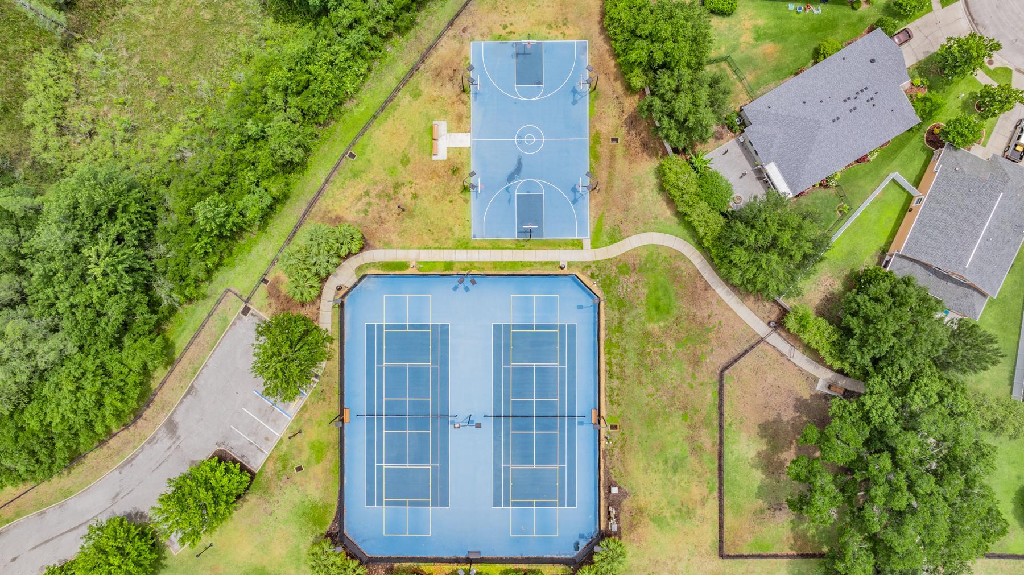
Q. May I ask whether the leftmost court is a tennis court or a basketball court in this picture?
tennis court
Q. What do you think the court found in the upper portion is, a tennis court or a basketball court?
basketball court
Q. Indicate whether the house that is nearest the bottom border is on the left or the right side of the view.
right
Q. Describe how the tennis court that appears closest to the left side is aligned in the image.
from top to bottom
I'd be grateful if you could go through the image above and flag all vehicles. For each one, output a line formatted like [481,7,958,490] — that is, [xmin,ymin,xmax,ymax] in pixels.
[1006,117,1024,163]
[893,25,920,49]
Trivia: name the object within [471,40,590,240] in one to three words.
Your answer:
basketball court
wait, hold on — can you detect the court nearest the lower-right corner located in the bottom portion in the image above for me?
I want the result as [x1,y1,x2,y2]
[492,295,577,536]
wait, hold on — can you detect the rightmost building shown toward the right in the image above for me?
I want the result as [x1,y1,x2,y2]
[872,141,1024,320]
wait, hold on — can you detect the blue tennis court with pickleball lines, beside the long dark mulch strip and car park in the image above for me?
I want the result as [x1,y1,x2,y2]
[365,295,450,536]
